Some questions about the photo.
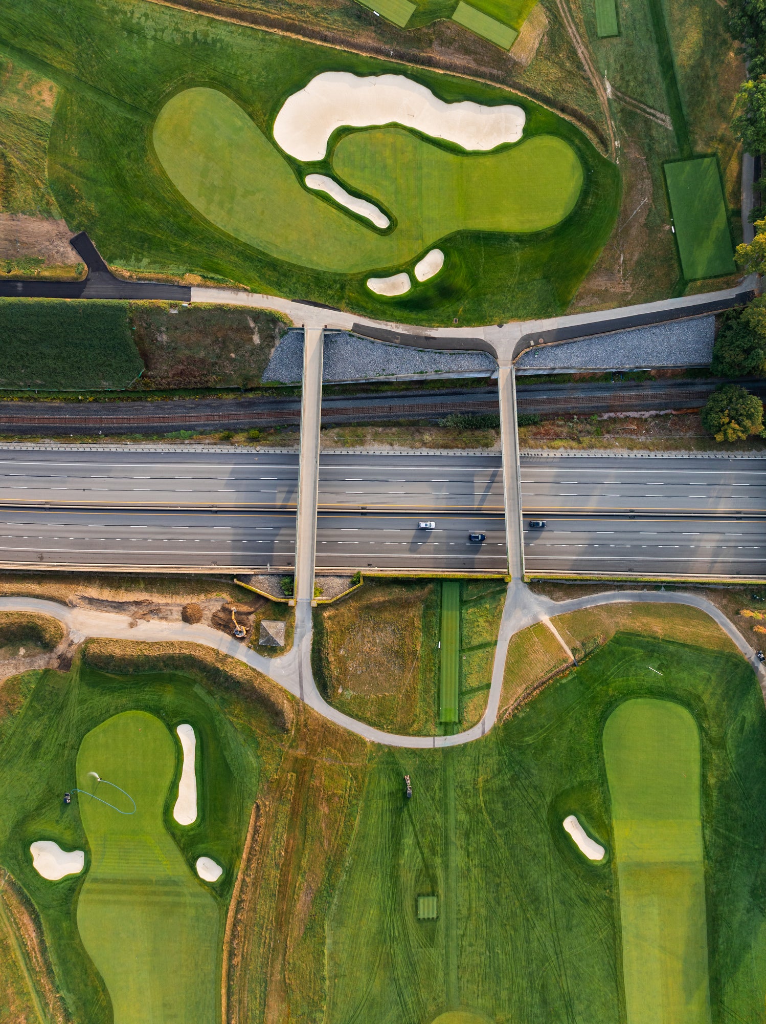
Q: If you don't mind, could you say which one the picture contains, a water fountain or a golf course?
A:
golf course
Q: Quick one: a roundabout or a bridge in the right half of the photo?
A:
bridge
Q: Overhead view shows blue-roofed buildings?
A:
No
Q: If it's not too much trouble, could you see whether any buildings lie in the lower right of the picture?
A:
No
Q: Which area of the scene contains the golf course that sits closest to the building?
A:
bottom left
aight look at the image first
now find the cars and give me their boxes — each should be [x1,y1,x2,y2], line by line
[419,521,436,529]
[530,520,547,528]
[469,534,486,541]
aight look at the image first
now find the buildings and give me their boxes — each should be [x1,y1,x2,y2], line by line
[258,621,284,648]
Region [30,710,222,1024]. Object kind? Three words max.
golf course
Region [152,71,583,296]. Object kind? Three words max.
golf course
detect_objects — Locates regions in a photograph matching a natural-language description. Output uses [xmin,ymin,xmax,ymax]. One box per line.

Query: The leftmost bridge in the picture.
[293,327,324,600]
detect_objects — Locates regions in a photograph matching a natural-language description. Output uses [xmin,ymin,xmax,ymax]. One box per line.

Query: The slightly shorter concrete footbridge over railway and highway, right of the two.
[492,365,526,580]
